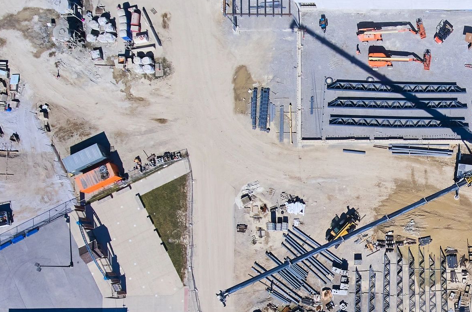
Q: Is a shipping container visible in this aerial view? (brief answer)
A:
Yes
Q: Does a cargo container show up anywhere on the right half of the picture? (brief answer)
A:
No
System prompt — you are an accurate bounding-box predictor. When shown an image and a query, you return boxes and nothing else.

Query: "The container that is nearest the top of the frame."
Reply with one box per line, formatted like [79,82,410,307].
[66,143,112,175]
